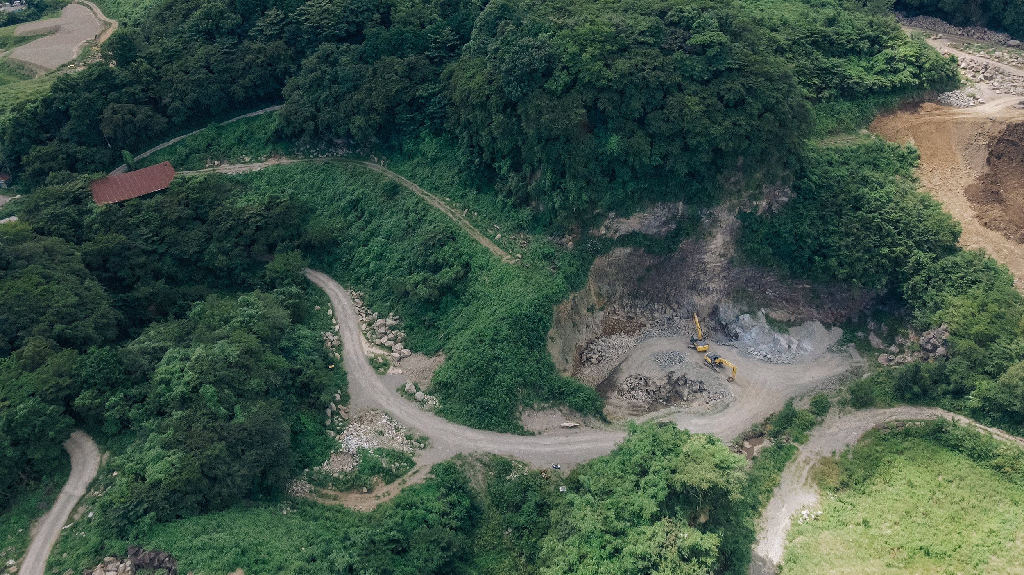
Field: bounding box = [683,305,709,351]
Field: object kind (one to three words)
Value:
work vehicle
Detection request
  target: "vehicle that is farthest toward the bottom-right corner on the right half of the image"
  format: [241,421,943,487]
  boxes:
[701,351,740,379]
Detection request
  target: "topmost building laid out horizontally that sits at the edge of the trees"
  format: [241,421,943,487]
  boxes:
[91,160,181,215]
